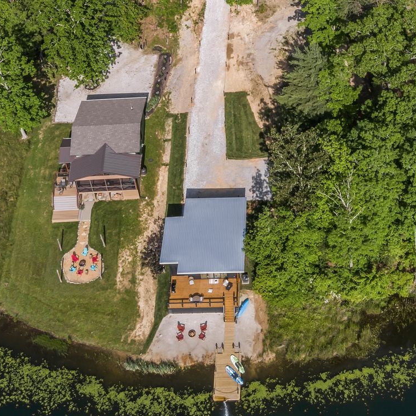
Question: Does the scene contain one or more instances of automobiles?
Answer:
No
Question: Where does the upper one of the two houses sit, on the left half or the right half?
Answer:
left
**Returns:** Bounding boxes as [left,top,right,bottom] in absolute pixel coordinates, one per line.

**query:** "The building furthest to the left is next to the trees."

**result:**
[54,101,147,201]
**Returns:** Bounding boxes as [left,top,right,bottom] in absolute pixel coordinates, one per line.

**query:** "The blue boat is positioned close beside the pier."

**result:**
[235,297,249,329]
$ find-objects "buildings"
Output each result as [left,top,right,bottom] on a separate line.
[159,197,250,292]
[54,101,147,201]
